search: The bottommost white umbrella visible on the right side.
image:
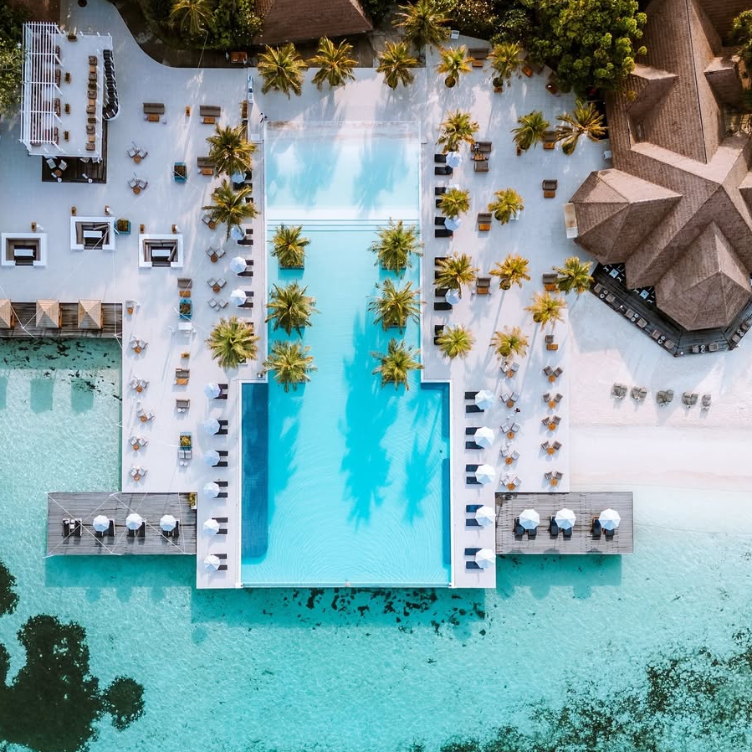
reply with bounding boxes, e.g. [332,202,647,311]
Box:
[475,548,496,569]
